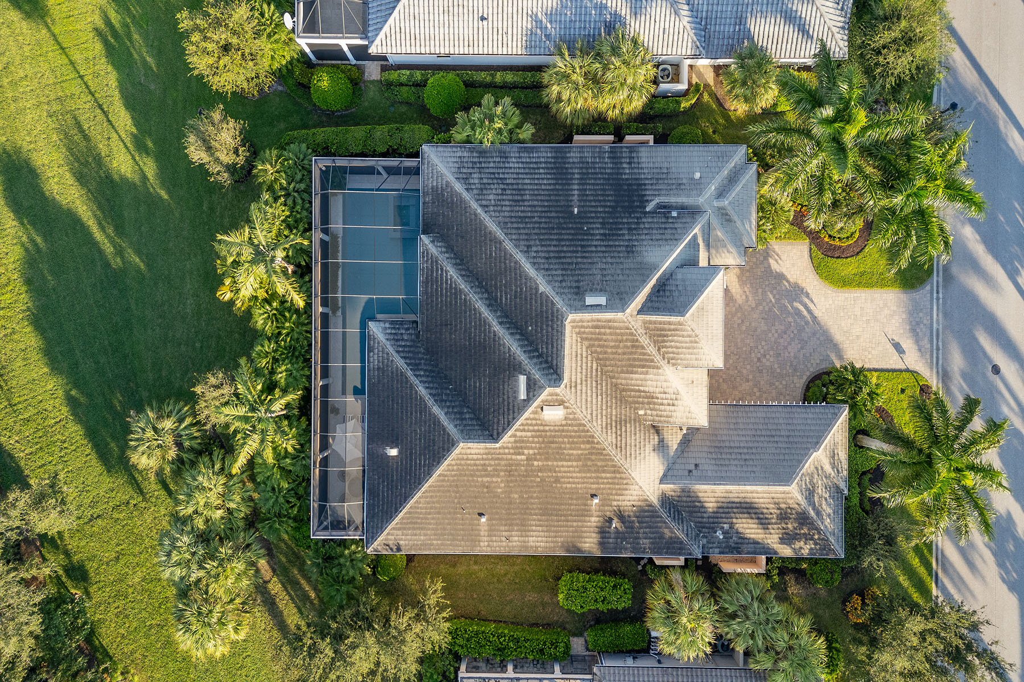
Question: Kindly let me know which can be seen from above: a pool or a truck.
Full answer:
The one in the frame is a pool.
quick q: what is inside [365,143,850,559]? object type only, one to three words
house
